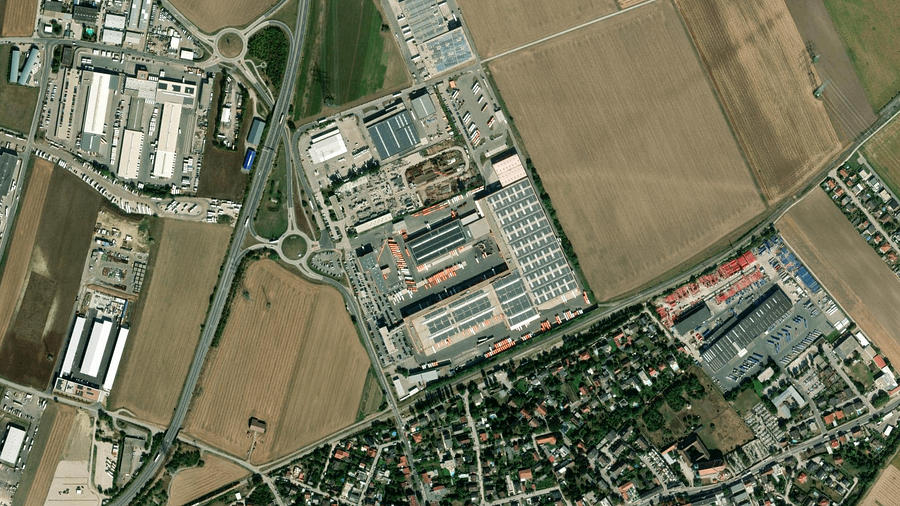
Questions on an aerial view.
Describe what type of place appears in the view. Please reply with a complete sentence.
This image shows a residential area.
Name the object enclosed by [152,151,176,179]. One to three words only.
building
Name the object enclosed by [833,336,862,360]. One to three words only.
building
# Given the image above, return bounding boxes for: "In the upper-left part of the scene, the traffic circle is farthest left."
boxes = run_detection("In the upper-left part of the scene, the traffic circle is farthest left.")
[214,28,247,61]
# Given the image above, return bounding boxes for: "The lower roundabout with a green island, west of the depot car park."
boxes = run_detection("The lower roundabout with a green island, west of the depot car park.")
[279,230,309,261]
